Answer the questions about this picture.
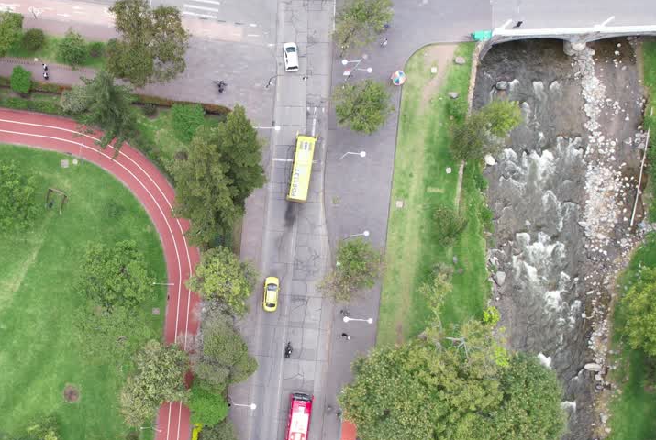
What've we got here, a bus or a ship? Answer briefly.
bus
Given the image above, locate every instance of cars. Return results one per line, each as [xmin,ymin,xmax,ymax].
[282,42,298,73]
[263,276,280,312]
